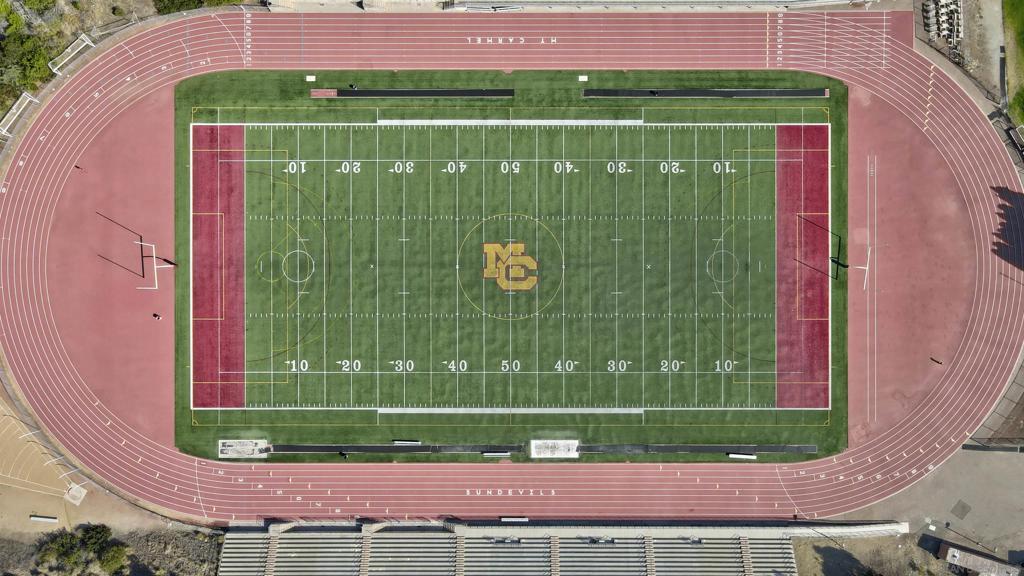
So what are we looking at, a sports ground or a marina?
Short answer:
sports ground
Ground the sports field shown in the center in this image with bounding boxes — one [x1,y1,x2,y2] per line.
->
[175,68,849,464]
